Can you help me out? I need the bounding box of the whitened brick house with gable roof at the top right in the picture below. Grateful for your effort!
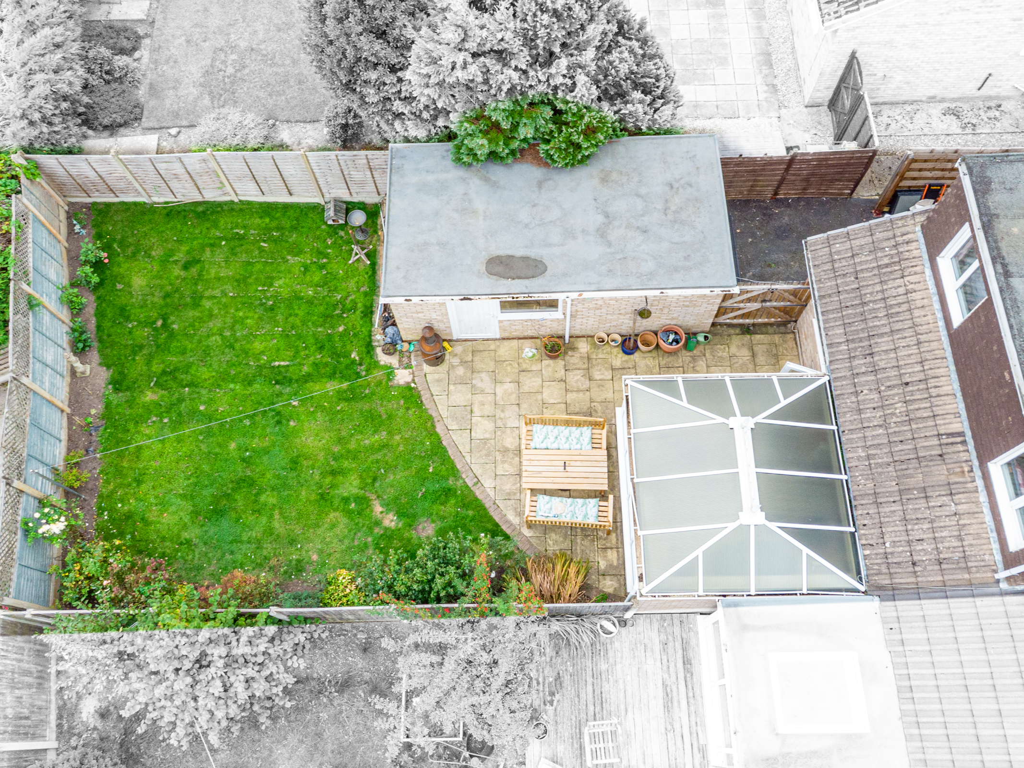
[785,0,1024,105]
